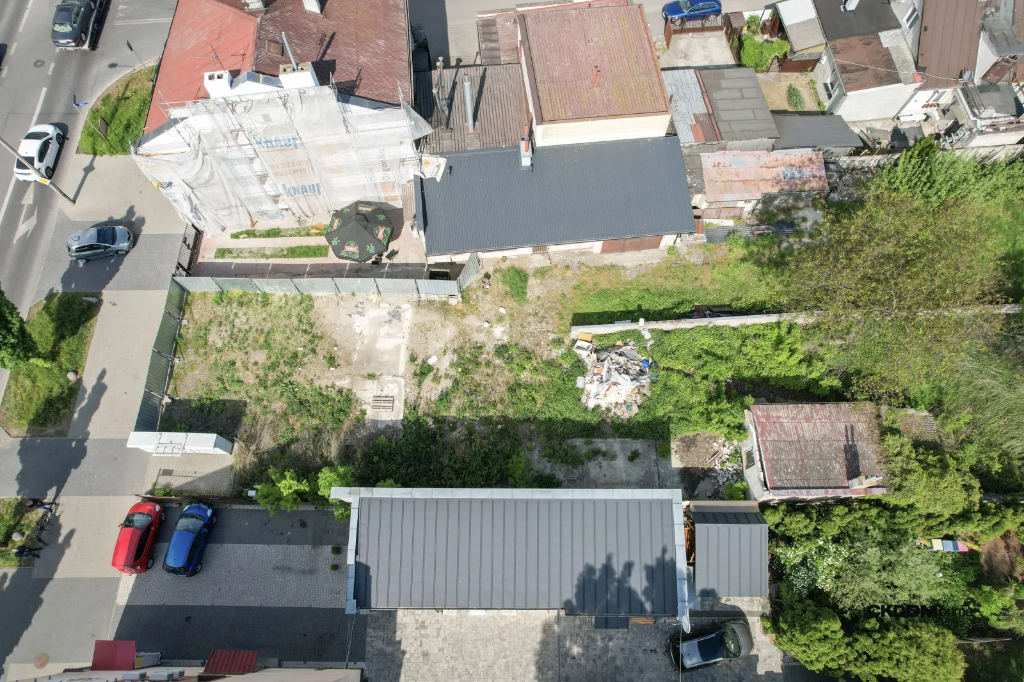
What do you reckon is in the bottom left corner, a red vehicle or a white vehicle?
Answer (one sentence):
There is a red vehicle in the bottom left corner.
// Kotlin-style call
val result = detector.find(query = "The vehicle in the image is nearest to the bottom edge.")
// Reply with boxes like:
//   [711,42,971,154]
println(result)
[667,619,754,675]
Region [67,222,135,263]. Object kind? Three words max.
car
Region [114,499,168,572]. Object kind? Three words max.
car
